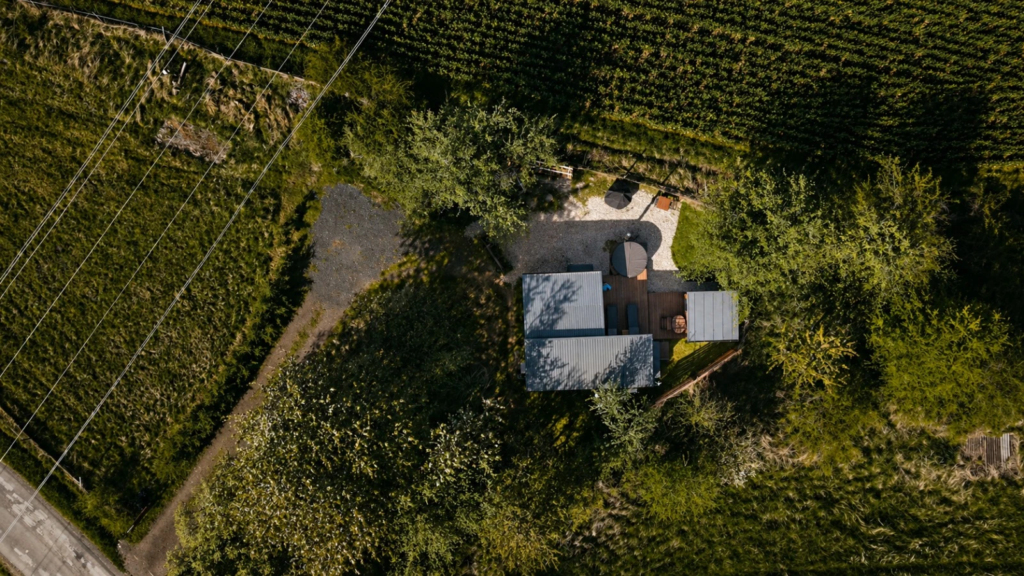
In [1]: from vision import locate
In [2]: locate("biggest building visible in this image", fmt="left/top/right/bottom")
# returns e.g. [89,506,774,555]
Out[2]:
[519,270,662,394]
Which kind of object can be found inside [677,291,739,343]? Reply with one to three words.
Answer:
shed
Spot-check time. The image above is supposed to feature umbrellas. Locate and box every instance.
[603,179,634,210]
